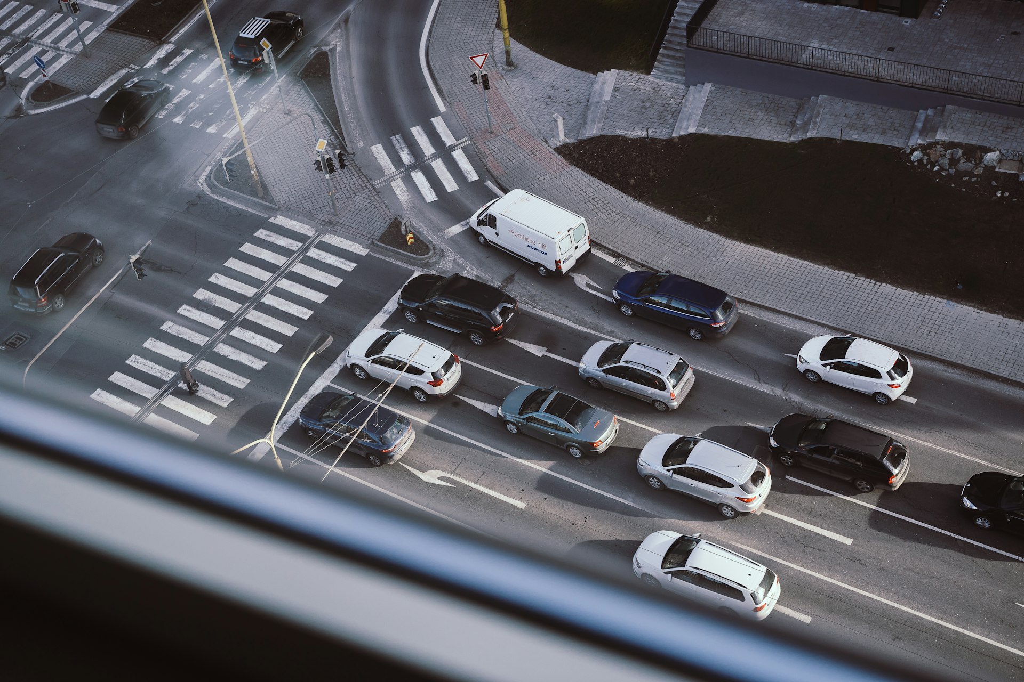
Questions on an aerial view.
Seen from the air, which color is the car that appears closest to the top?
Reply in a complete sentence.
In this view, the car that appears closest to the top is black.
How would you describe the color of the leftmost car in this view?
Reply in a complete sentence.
In this view, the leftmost car is black.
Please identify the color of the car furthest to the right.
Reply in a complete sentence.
The car furthest to the right is black.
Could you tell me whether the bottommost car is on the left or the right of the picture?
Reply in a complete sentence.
It is on the right.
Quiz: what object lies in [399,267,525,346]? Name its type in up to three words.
car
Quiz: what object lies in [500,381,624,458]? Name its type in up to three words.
car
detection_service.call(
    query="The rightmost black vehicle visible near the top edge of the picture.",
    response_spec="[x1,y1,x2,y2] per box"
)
[222,10,302,77]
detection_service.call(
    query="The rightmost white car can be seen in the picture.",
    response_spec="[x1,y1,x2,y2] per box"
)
[801,330,916,405]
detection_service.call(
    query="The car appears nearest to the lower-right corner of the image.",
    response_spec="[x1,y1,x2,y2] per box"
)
[961,470,1024,538]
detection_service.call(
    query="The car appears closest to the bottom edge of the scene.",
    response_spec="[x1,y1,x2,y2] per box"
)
[637,530,784,620]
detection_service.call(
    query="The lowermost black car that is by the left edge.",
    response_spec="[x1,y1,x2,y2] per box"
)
[4,232,101,317]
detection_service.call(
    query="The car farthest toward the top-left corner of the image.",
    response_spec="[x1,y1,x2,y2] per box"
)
[92,79,168,139]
